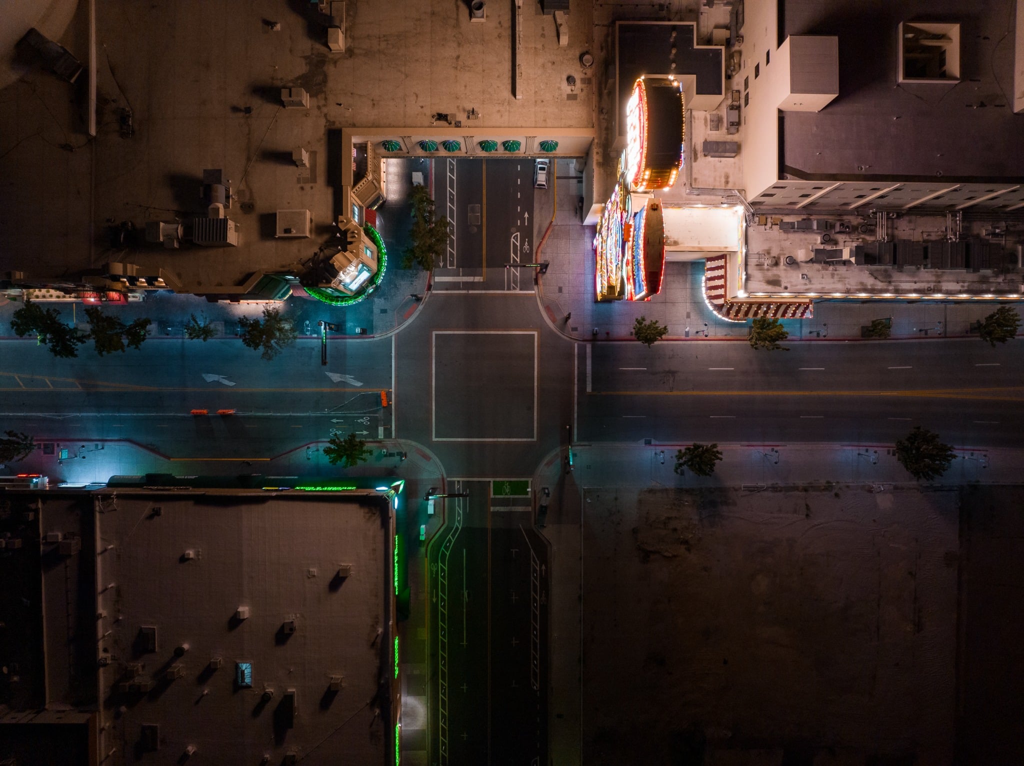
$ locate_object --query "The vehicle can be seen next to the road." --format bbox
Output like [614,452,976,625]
[534,164,549,188]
